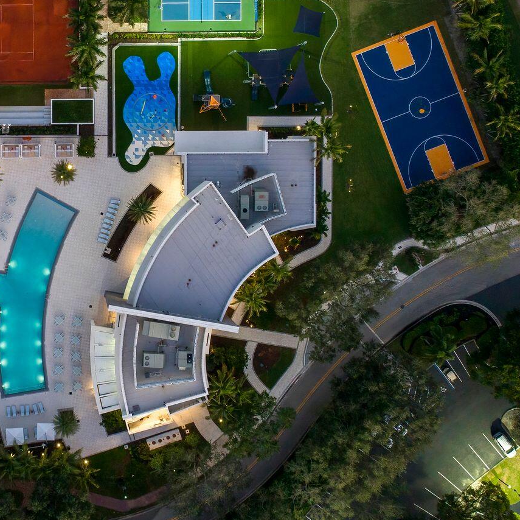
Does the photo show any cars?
Yes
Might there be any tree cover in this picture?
Yes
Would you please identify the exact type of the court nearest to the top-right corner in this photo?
basketball court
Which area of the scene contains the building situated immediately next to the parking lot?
center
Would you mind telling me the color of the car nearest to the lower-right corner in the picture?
white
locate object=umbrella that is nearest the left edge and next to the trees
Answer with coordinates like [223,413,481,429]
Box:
[6,426,23,445]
